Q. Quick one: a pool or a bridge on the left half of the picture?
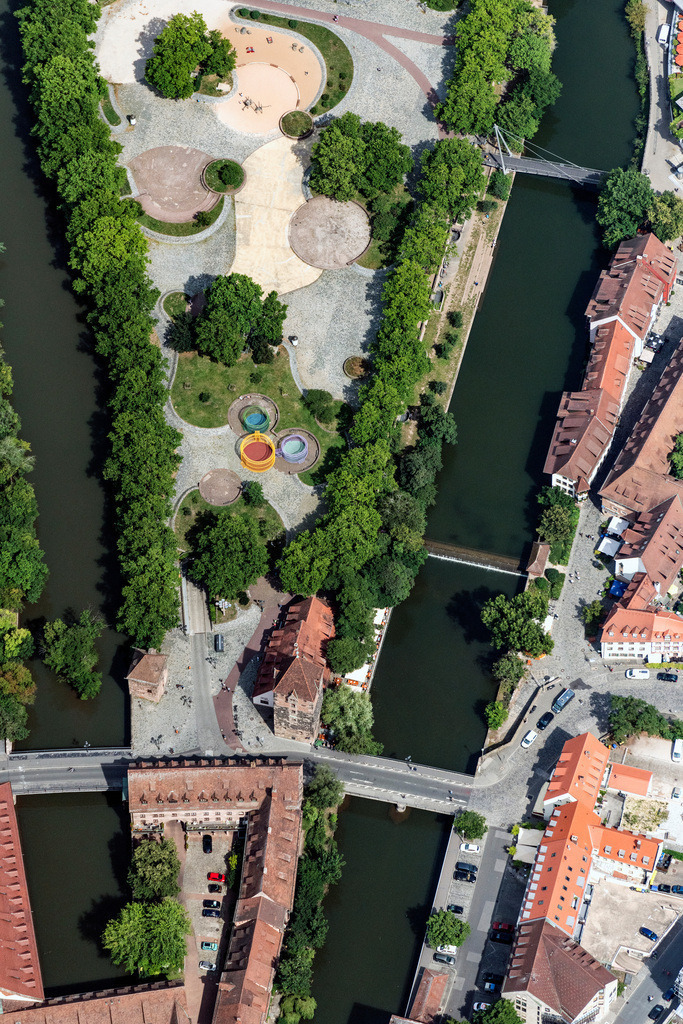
bridge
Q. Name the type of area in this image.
residential area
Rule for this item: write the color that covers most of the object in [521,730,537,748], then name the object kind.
white car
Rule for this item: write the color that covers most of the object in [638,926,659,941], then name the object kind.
blue car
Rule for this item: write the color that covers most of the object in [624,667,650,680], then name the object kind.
white vehicle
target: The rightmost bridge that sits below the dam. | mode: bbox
[310,746,475,817]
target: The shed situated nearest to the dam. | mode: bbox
[526,543,551,586]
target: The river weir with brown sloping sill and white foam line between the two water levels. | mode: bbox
[428,539,529,577]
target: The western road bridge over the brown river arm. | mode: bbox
[0,747,131,799]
